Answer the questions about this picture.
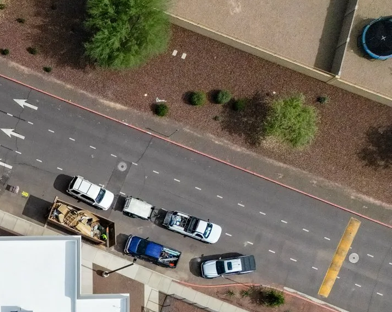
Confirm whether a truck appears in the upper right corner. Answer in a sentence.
No, I see no truck in the upper right corner.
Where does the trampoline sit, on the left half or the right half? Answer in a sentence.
It is on the right.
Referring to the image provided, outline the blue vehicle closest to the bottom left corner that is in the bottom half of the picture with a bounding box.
[123,237,181,270]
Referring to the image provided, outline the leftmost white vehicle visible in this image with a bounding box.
[63,177,115,211]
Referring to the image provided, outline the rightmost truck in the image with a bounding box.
[199,253,257,279]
